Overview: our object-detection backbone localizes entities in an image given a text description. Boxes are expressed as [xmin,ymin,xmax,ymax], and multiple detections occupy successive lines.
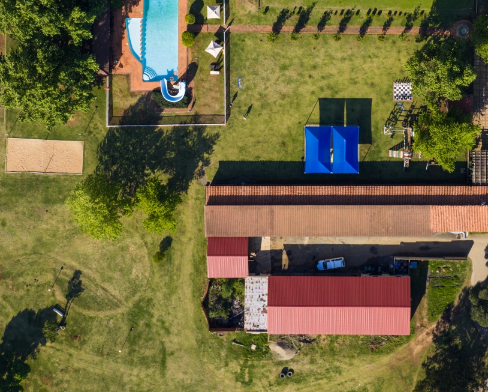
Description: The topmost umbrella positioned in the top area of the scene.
[207,6,222,19]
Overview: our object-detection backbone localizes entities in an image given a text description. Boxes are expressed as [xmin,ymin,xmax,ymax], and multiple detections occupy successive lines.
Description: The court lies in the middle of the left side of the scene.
[6,139,83,177]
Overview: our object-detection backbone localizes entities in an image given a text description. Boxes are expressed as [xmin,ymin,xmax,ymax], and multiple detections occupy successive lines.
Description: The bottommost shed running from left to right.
[269,271,410,336]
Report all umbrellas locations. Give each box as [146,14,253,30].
[205,41,224,59]
[207,6,222,19]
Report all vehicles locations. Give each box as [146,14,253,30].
[317,258,345,270]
